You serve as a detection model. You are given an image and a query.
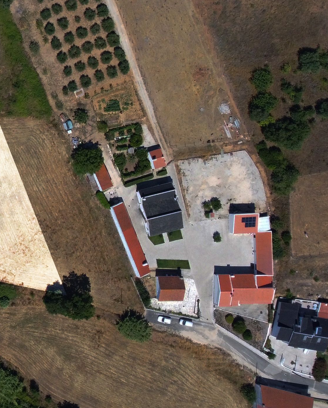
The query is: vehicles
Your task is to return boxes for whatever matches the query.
[178,318,193,327]
[157,315,171,323]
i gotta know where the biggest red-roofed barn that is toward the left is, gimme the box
[109,202,151,278]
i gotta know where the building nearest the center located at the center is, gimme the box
[133,182,184,237]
